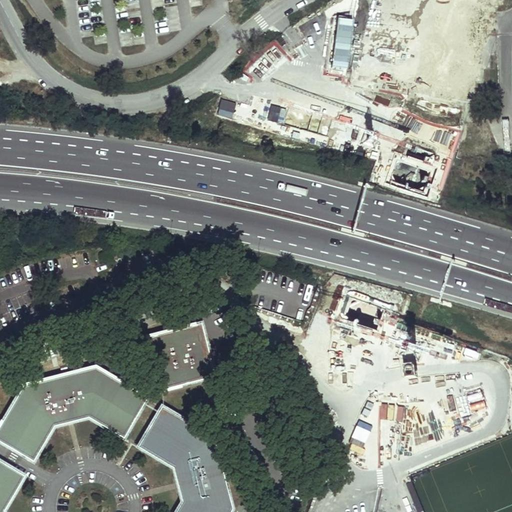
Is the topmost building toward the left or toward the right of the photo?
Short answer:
right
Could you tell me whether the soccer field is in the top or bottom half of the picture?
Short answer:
bottom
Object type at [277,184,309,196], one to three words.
vehicle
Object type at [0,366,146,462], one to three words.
building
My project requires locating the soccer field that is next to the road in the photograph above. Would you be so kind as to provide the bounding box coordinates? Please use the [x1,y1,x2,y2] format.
[410,432,512,512]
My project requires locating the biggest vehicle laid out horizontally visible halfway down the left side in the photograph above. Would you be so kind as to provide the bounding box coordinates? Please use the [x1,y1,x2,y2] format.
[74,206,116,218]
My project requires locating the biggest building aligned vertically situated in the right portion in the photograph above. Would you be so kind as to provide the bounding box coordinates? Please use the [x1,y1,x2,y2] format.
[332,10,354,68]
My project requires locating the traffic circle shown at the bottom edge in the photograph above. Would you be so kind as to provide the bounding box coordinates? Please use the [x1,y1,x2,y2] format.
[44,452,140,512]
